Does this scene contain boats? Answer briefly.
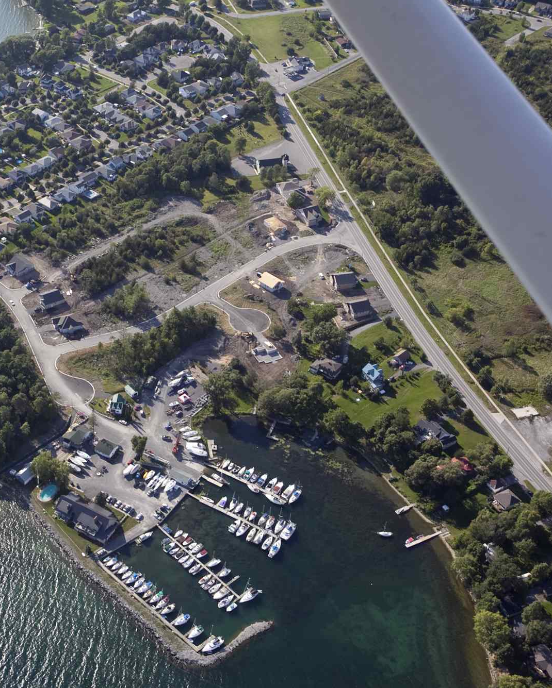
Yes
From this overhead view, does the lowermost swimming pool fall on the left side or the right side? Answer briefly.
left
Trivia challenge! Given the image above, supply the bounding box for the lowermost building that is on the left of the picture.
[45,493,127,551]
